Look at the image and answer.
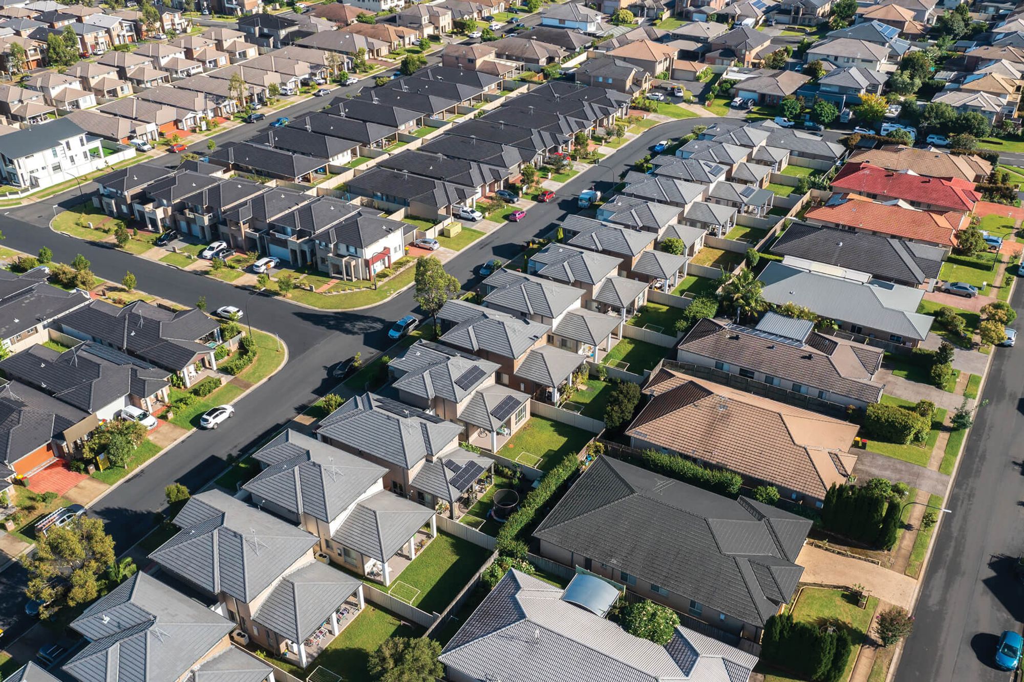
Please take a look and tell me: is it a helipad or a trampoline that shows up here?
trampoline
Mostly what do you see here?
buildings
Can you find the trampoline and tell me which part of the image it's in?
bottom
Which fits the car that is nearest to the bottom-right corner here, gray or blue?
blue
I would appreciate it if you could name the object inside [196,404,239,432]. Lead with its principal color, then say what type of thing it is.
white car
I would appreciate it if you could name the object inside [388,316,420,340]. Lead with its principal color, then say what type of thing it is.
blue car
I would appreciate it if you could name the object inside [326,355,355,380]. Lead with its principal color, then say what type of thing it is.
black car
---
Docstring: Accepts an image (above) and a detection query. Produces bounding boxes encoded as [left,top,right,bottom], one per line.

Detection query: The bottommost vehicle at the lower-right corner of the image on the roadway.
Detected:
[990,633,1024,677]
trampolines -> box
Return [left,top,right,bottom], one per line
[486,483,522,521]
